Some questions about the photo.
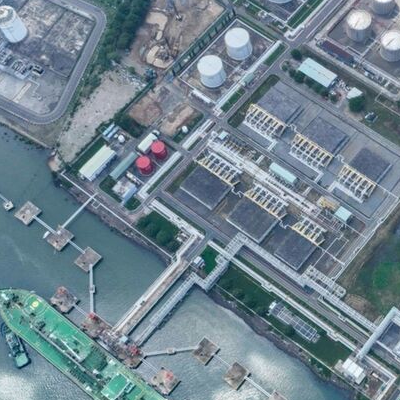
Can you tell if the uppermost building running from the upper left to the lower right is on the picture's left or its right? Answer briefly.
right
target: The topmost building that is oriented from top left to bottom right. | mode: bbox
[298,58,337,90]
